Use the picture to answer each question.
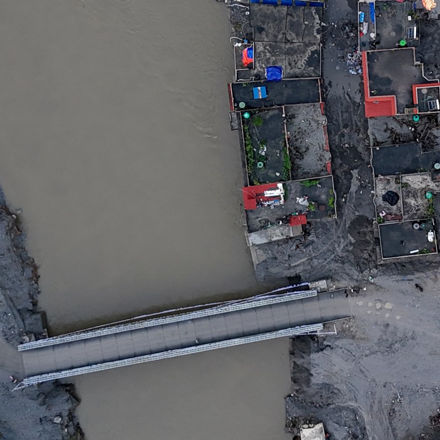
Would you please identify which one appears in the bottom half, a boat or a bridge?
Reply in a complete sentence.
What appears in the bottom half is a bridge.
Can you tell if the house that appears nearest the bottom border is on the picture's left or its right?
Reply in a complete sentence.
The house that appears nearest the bottom border is on the right side of the image.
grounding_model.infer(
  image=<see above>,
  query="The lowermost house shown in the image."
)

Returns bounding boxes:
[373,219,440,264]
